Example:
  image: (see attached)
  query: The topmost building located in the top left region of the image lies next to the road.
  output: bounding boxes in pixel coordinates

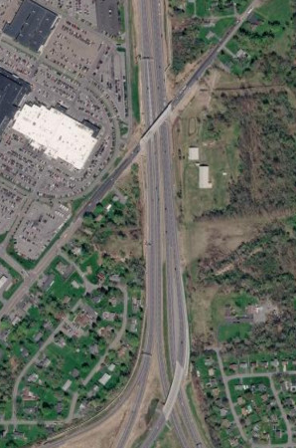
[2,0,61,52]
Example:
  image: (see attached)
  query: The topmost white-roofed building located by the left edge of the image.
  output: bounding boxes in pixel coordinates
[13,103,101,168]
